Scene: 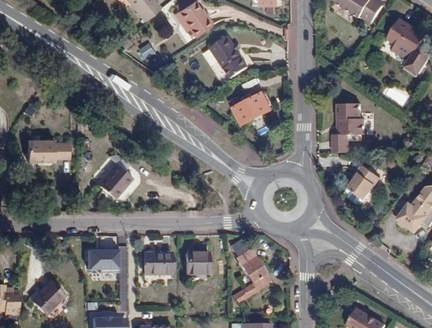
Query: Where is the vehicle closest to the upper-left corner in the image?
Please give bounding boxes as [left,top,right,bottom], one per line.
[109,74,131,90]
